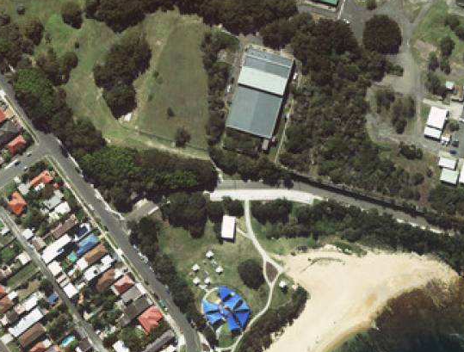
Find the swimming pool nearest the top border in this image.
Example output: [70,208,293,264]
[75,224,91,240]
